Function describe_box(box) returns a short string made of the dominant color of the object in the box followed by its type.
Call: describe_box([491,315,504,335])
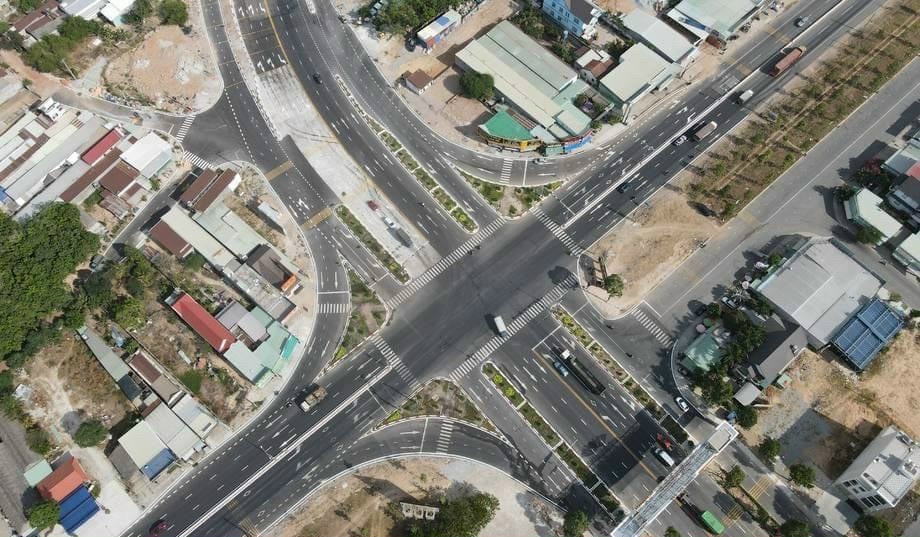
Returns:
white vehicle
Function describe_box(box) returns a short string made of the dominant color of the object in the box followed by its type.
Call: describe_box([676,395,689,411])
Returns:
white vehicle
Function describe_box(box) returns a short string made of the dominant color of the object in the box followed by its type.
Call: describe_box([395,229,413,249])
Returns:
gray vehicle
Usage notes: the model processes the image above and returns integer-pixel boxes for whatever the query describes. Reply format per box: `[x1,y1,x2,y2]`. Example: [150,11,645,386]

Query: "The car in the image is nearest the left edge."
[90,253,103,267]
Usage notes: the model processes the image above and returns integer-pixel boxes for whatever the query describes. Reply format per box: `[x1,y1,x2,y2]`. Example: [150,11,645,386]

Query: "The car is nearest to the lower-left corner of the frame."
[150,518,167,534]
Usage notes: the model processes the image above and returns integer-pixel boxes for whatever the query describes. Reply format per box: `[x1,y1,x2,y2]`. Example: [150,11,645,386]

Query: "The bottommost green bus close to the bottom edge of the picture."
[695,505,729,536]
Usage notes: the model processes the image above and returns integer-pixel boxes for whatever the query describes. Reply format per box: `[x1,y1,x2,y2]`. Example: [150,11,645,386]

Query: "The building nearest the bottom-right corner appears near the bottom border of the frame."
[834,426,920,513]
